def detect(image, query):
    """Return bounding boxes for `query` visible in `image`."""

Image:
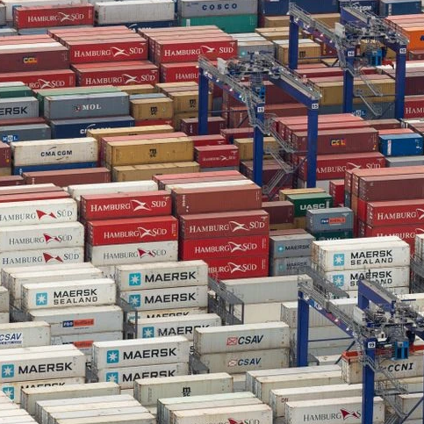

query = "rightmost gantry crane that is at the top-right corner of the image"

[285,0,419,130]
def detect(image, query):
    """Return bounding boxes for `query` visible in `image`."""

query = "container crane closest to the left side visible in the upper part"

[193,53,328,202]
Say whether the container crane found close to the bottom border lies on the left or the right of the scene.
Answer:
right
